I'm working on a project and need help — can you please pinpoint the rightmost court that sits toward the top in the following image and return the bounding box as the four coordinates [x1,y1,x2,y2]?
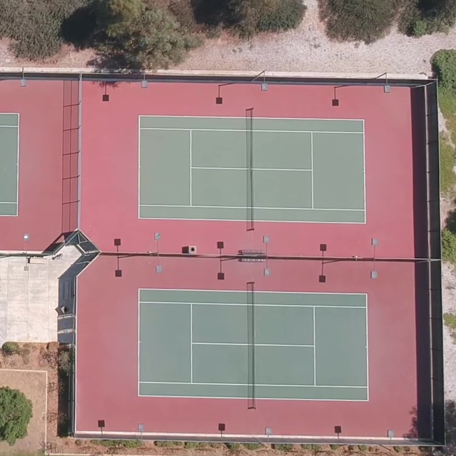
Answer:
[78,77,429,257]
